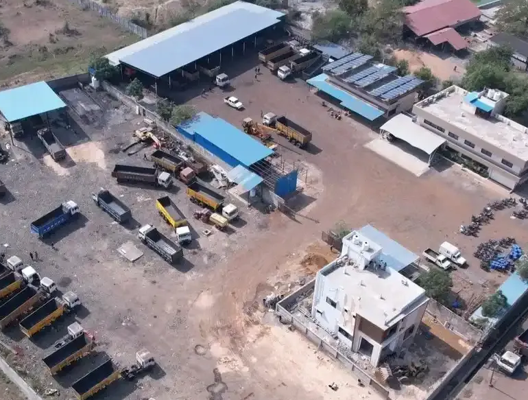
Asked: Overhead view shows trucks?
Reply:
Yes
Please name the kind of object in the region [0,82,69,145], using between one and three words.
shed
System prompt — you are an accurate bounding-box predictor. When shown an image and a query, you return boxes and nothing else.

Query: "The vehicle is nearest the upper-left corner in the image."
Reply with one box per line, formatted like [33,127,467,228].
[4,117,30,147]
